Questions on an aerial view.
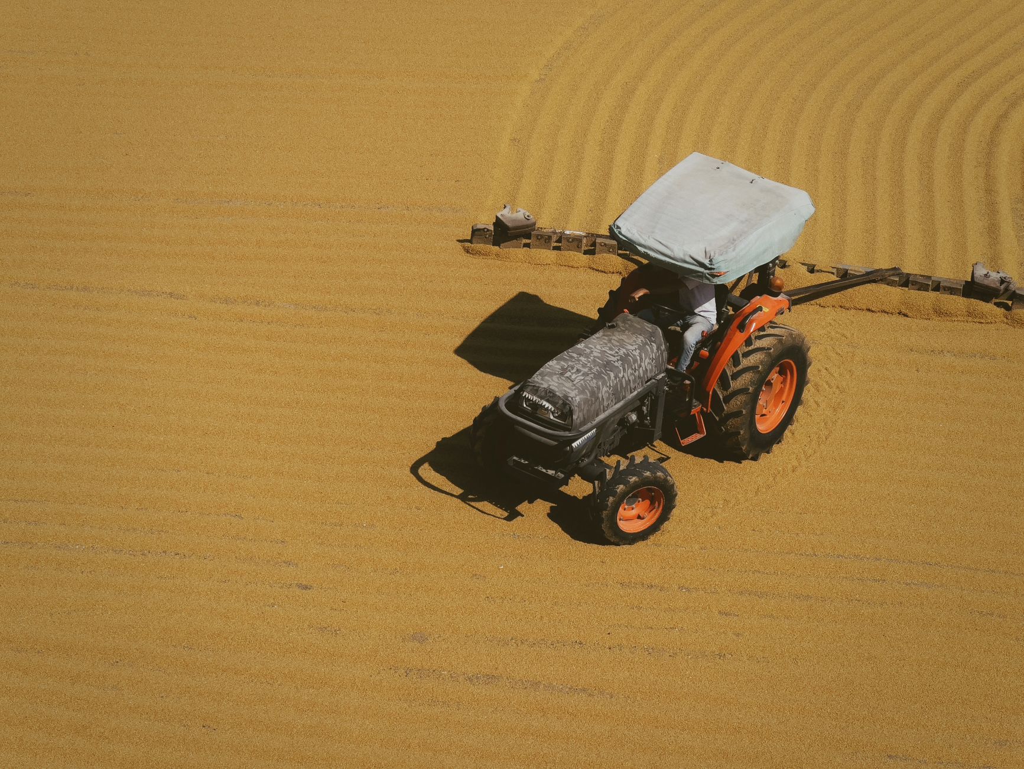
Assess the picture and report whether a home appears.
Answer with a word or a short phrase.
No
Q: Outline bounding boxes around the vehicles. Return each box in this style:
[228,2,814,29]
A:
[485,155,815,545]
